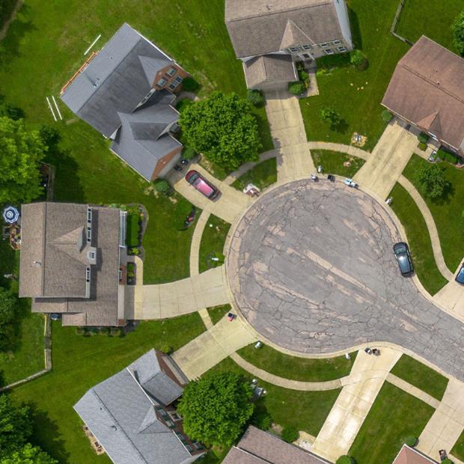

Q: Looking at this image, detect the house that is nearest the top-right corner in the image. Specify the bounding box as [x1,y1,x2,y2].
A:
[381,35,464,154]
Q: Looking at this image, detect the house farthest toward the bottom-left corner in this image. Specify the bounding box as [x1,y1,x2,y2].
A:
[73,348,205,464]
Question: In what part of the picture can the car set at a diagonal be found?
center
